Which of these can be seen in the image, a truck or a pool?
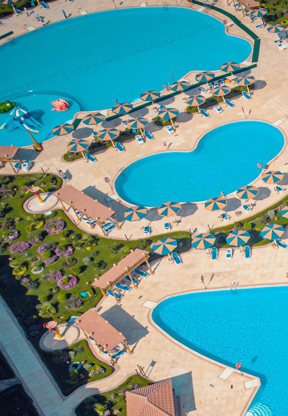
pool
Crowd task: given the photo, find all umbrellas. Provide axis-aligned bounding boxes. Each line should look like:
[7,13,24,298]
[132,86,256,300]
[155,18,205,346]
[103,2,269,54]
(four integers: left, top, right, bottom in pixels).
[204,198,230,220]
[124,207,151,230]
[151,239,179,263]
[83,113,107,133]
[211,85,232,105]
[220,63,242,81]
[260,225,287,249]
[186,95,208,115]
[236,76,257,94]
[52,123,77,144]
[234,186,261,209]
[250,9,269,25]
[139,90,163,110]
[157,107,181,128]
[1,0,20,11]
[261,172,286,193]
[191,233,219,257]
[170,82,192,100]
[126,118,150,137]
[97,128,122,148]
[112,103,134,122]
[266,25,286,39]
[67,140,92,161]
[225,231,252,254]
[195,71,217,91]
